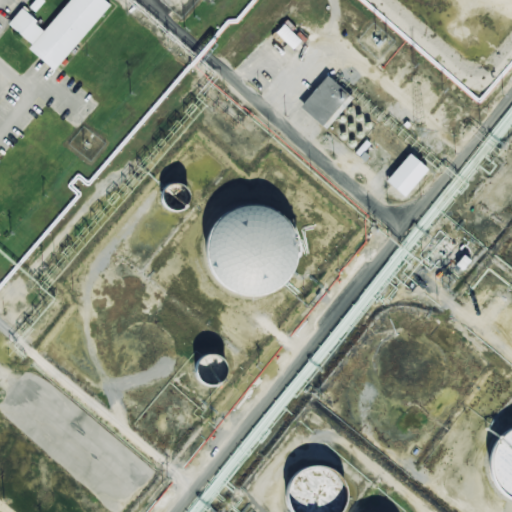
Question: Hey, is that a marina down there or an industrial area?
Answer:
industrial area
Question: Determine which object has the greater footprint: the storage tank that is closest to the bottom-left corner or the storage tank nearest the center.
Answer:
the storage tank nearest the center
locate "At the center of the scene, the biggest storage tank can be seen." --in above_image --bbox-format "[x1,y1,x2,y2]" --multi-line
[206,206,300,298]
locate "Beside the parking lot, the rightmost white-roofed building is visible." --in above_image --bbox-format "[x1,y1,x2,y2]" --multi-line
[30,0,115,70]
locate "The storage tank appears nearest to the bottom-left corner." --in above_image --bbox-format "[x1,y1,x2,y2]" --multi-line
[196,353,229,386]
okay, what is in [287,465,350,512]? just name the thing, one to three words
storage tank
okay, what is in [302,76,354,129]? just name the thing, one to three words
building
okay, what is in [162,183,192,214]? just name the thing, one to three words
storage tank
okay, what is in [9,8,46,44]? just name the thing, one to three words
building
